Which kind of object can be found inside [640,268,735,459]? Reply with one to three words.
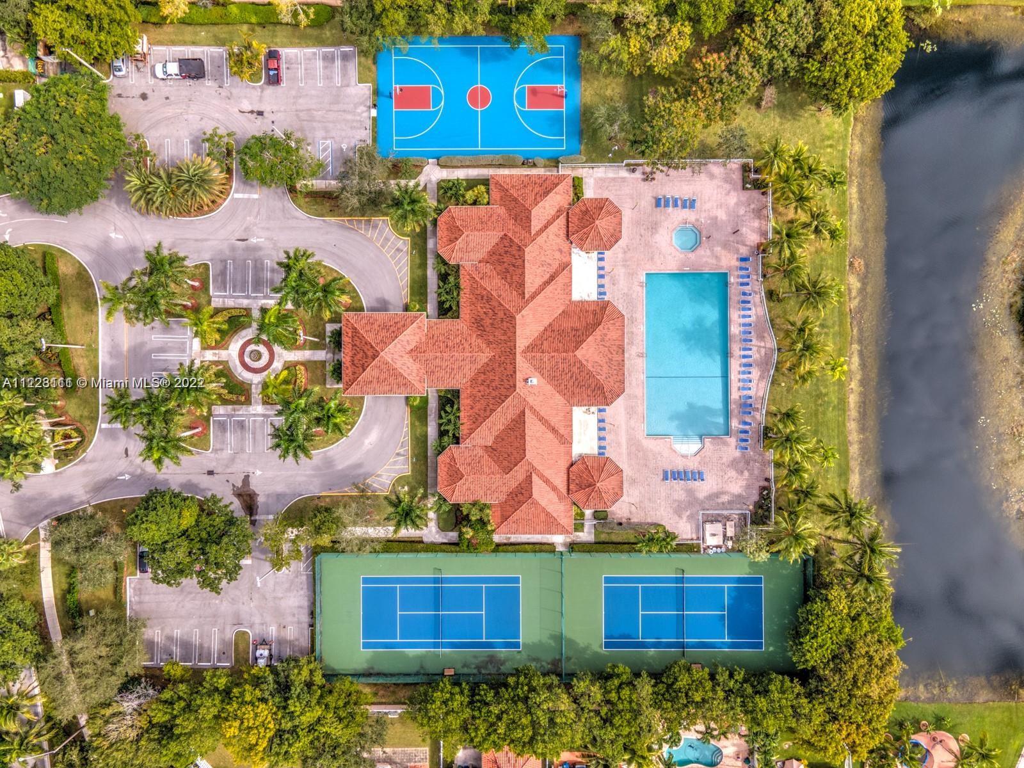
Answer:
swimming pool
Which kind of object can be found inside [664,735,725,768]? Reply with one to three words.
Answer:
swimming pool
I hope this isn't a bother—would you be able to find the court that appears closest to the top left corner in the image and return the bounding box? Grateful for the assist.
[378,36,581,158]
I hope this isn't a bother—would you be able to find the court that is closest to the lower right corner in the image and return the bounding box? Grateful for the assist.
[563,554,806,674]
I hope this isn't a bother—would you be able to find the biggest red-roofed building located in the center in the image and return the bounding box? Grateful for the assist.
[341,173,625,536]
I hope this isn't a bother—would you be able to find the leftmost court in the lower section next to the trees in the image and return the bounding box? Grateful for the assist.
[318,554,563,674]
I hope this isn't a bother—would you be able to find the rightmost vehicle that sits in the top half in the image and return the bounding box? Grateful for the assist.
[264,48,281,84]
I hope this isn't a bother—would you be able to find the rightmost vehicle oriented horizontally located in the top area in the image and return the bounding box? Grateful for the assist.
[153,56,203,78]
